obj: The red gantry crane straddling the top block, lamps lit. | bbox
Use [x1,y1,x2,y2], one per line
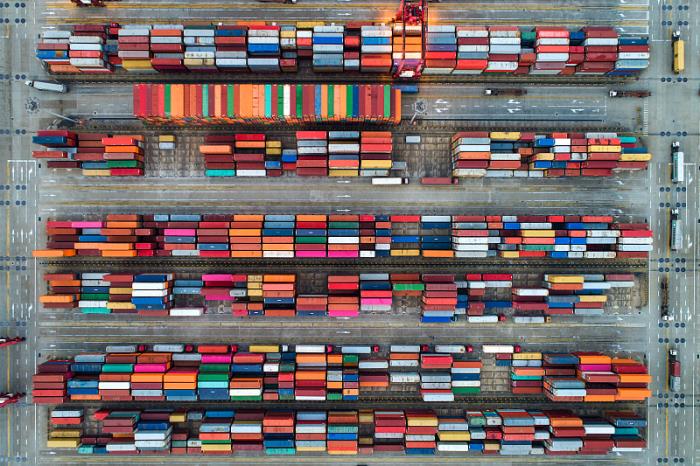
[389,0,428,80]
